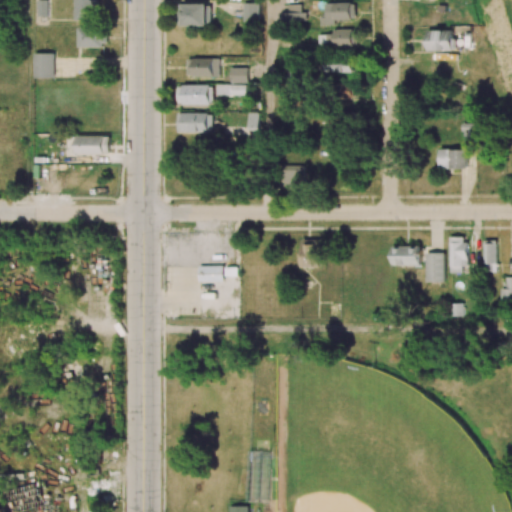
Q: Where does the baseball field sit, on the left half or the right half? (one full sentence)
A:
The baseball field is on the right side of the image.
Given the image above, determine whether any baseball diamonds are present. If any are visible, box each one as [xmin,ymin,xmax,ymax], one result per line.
[278,356,508,512]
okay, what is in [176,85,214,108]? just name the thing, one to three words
house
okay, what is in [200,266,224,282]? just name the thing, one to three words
building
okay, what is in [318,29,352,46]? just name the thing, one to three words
house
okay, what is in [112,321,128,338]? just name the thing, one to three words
vehicle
